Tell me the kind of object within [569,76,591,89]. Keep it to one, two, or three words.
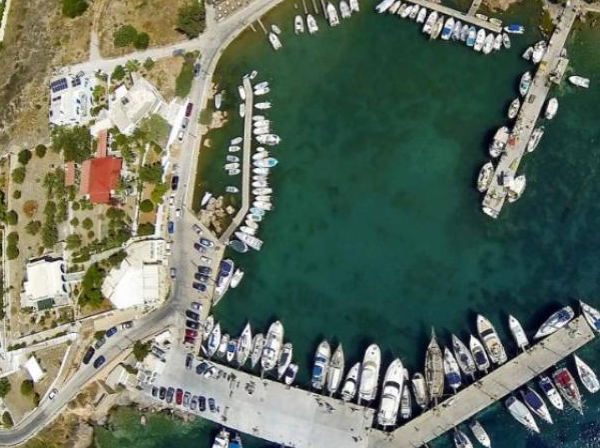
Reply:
boat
